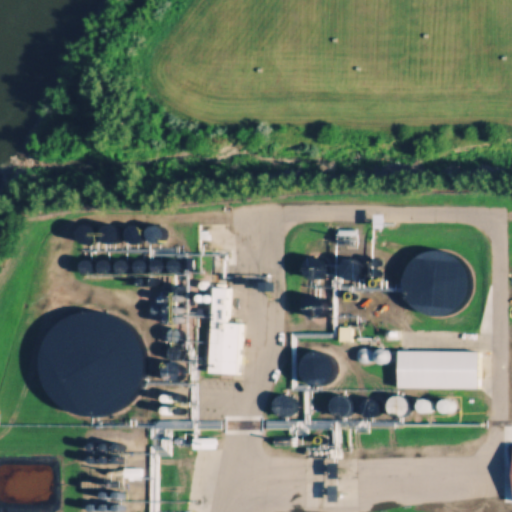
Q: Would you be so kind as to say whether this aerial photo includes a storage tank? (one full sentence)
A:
Yes, a storage tank appears in the view.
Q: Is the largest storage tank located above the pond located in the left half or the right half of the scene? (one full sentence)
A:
You can find the largest storage tank located above the pond on the left side of the picture.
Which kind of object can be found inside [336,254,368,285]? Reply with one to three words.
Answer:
storage tank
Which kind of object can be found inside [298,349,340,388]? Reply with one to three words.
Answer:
storage tank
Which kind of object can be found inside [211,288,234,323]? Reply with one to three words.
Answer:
building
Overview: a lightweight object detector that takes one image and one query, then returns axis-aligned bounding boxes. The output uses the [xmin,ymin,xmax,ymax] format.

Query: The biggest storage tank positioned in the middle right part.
[401,246,476,321]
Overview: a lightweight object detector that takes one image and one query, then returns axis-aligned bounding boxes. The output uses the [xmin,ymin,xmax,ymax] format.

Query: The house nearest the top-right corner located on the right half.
[338,229,360,248]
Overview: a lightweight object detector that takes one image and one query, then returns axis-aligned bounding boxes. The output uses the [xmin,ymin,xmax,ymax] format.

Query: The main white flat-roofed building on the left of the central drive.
[208,323,246,374]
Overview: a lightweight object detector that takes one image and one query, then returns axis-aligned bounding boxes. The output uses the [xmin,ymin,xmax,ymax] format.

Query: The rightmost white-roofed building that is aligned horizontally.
[396,351,481,389]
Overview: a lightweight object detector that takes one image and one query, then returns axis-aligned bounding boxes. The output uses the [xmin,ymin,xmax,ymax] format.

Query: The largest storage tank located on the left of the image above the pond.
[39,308,150,420]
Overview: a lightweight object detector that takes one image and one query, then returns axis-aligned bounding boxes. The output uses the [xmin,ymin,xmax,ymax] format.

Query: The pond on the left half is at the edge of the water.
[0,456,62,512]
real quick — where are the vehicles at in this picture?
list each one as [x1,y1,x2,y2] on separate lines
[272,370,280,382]
[279,332,284,345]
[234,382,244,392]
[458,334,476,340]
[360,297,372,309]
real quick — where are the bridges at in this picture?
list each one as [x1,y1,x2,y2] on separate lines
[226,416,263,434]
